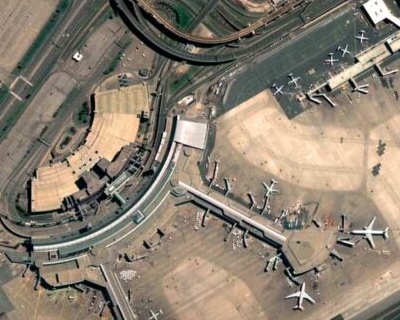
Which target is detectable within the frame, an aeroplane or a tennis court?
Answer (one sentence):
Visible in the photo is an aeroplane.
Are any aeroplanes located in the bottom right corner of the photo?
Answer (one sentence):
Yes, looking in the bottom right corner of the photo, one can make out an aeroplane.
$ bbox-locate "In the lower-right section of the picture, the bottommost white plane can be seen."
[286,282,314,311]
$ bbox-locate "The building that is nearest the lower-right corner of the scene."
[282,228,329,275]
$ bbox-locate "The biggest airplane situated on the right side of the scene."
[351,215,388,248]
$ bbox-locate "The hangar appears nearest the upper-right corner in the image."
[366,0,400,28]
